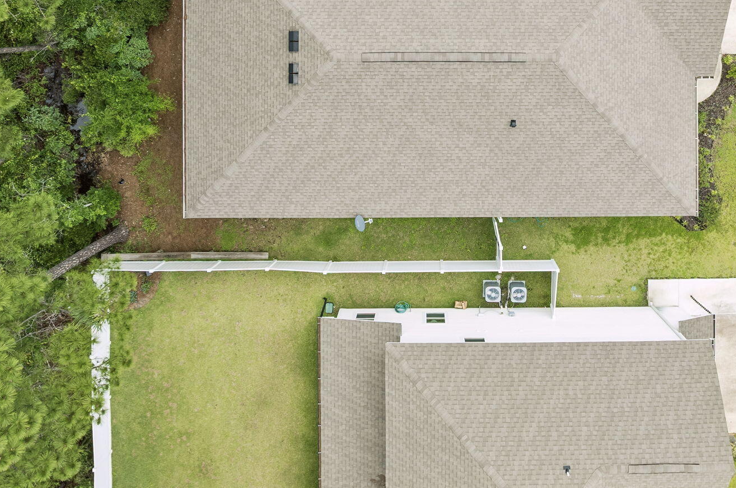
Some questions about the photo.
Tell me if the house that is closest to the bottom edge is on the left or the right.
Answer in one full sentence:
You can find the house that is closest to the bottom edge on the right side of the picture.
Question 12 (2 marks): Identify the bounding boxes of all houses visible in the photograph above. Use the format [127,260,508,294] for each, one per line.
[318,295,734,488]
[183,0,729,220]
